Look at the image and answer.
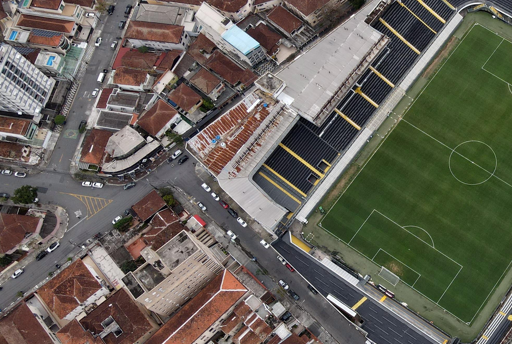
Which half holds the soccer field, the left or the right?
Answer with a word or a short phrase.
right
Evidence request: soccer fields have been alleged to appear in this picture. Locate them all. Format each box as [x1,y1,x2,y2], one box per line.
[301,11,512,341]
